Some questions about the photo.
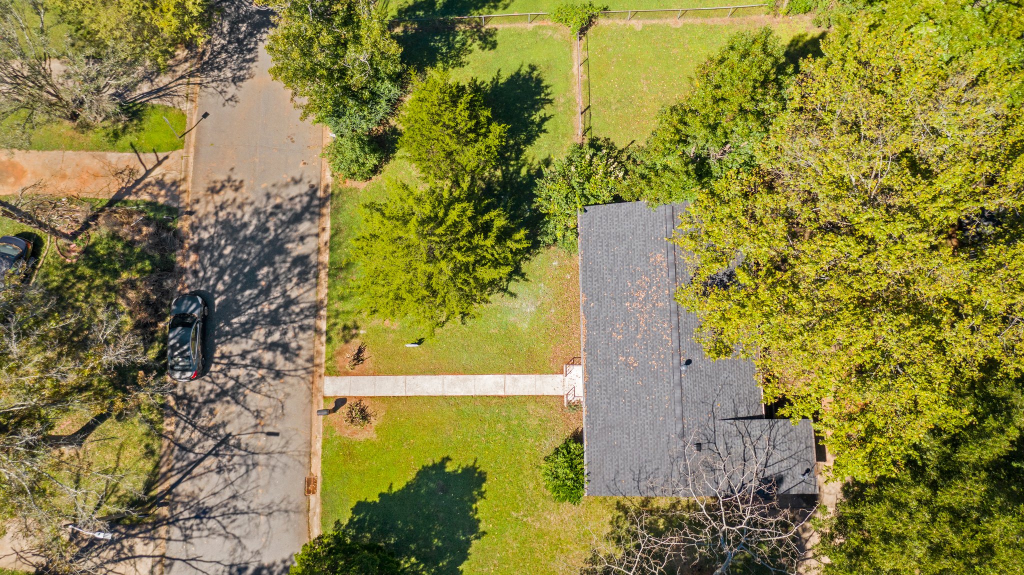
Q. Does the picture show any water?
No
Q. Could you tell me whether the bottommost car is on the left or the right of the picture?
left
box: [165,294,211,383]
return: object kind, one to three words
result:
car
